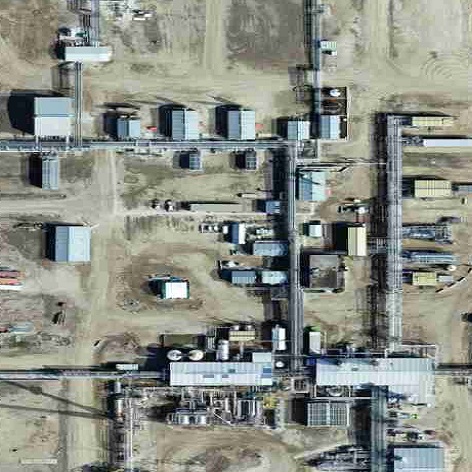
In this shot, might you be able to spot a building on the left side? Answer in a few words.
Yes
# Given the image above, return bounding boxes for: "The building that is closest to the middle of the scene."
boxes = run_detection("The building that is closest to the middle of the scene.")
[231,223,247,244]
